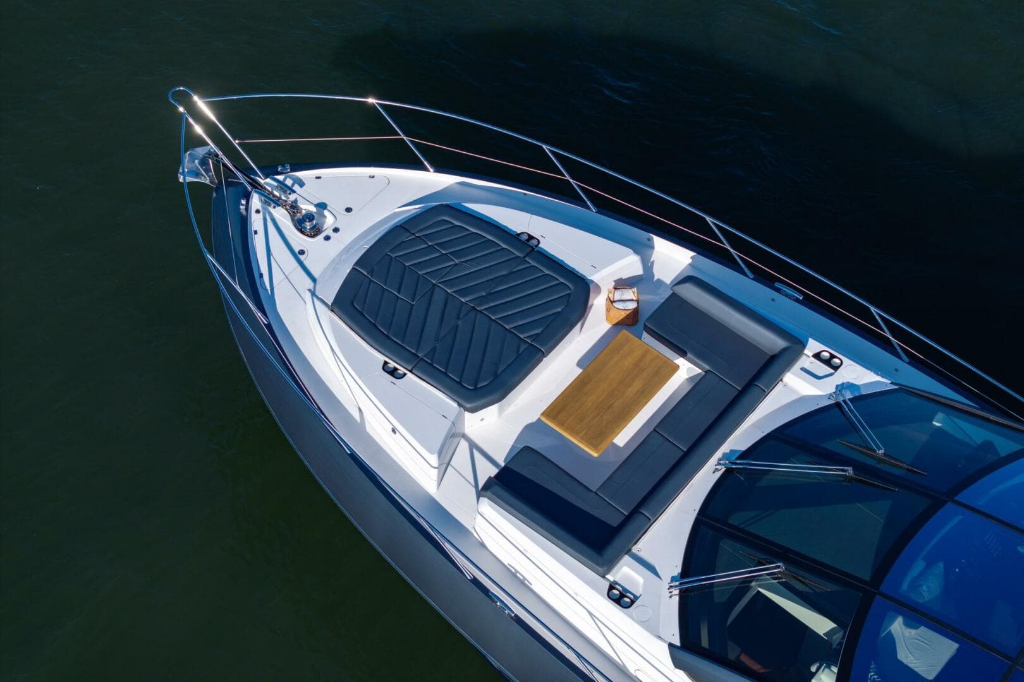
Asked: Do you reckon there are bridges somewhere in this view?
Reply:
No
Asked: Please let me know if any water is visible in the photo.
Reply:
Yes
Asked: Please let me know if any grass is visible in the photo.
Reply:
No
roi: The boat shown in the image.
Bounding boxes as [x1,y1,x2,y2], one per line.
[168,87,1024,682]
